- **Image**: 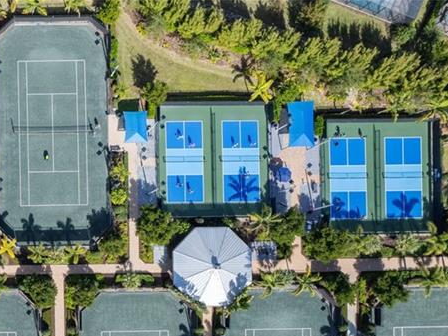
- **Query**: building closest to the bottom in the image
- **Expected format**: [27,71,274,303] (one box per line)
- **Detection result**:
[170,227,253,306]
